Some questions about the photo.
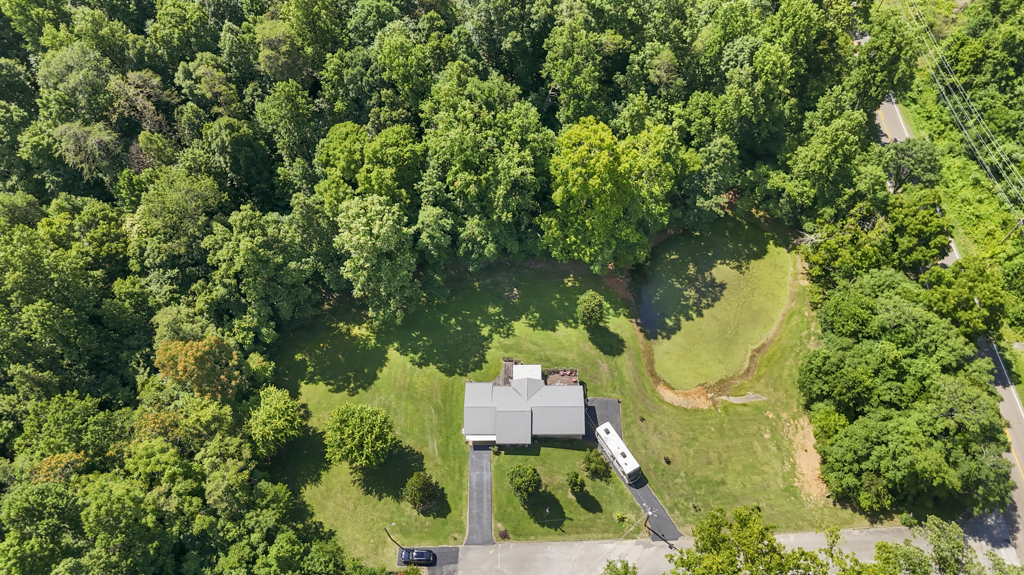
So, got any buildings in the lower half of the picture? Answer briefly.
Yes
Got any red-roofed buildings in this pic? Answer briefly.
No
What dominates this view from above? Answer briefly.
trees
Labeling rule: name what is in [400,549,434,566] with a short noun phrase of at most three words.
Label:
car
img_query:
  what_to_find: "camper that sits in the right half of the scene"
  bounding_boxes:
[594,423,643,484]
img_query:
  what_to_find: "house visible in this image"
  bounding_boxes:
[464,365,585,449]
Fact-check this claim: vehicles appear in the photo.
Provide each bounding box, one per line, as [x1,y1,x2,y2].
[400,549,434,566]
[594,423,643,484]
